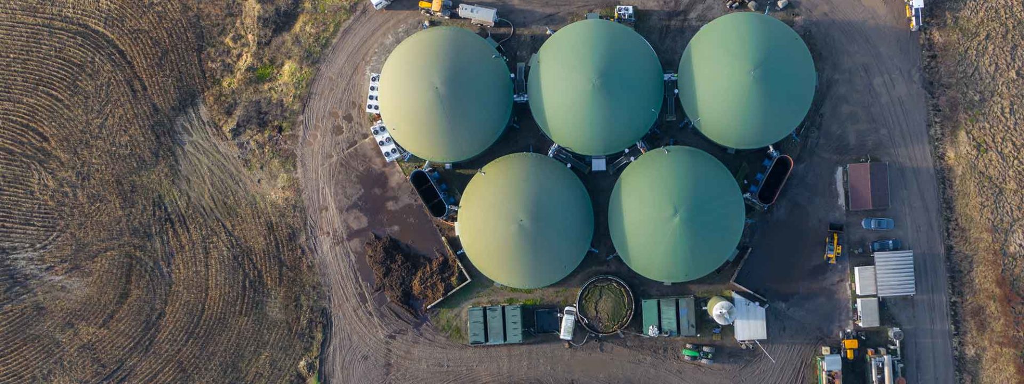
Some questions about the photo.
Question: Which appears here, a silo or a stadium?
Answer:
silo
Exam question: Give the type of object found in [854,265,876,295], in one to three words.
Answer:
building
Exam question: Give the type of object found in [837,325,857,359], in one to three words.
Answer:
work vehicle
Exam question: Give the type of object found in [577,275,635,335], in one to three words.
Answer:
storage tank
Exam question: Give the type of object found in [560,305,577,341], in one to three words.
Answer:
vehicle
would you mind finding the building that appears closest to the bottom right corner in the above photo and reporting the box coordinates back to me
[856,296,880,327]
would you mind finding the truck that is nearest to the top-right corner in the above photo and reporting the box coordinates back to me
[901,0,924,34]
